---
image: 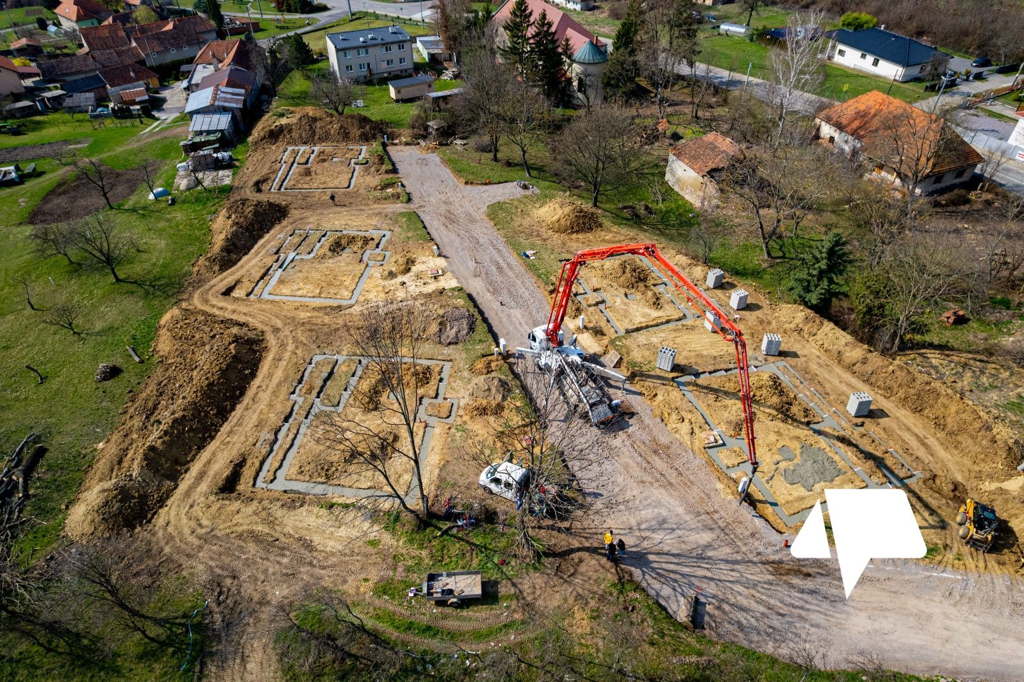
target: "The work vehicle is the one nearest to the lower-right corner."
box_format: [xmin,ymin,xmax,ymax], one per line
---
[962,490,1005,557]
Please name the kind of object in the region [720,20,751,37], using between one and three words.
shed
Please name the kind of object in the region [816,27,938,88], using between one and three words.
house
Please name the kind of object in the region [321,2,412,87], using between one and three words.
building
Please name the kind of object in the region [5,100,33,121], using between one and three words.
shed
